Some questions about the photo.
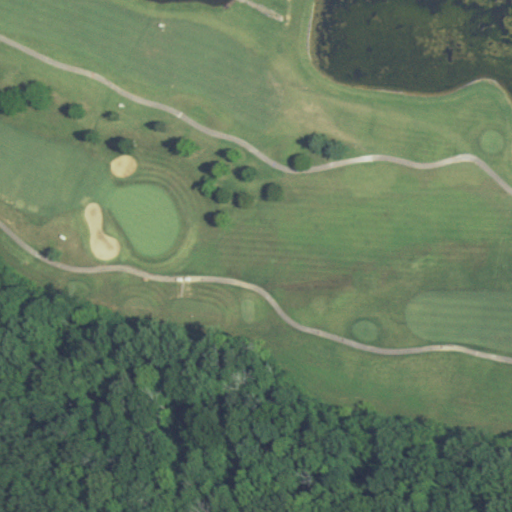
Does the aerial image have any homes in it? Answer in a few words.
No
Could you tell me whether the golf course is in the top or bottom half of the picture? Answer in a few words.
top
